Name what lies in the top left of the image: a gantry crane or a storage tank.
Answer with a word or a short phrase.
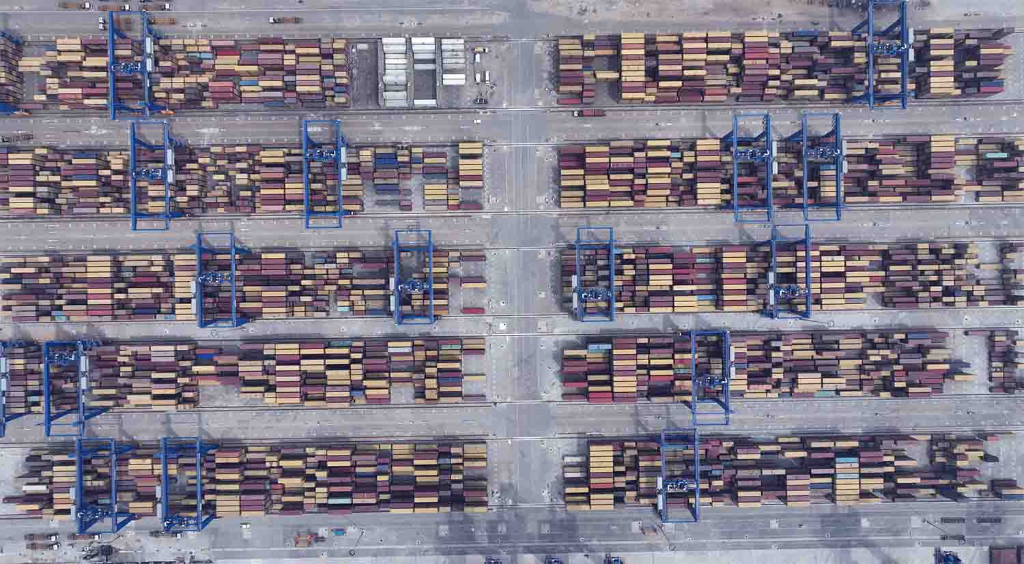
gantry crane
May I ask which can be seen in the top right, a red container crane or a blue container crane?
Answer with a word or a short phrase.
blue container crane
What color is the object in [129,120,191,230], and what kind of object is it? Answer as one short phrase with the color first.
blue container crane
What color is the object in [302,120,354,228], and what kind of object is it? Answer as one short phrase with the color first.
blue container crane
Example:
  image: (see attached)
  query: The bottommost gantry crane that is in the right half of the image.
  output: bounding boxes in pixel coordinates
[650,429,701,522]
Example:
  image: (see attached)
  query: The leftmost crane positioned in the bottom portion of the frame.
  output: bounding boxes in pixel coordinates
[0,339,35,436]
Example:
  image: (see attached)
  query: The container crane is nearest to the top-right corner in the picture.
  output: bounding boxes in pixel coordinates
[848,0,914,110]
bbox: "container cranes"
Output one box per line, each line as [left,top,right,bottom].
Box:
[719,113,778,221]
[302,120,354,228]
[388,229,440,325]
[848,0,914,110]
[70,436,140,533]
[785,112,848,220]
[190,231,253,328]
[679,330,736,426]
[0,339,35,436]
[107,11,173,120]
[570,227,616,322]
[42,338,109,437]
[755,224,813,319]
[155,436,220,534]
[650,429,701,522]
[129,120,191,230]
